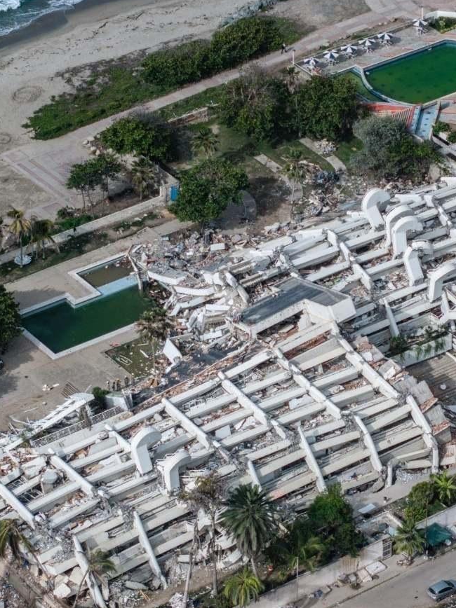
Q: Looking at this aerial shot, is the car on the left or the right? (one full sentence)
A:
The car appears in the right half of the scene.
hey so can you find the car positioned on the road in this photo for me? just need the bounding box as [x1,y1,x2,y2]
[424,572,456,597]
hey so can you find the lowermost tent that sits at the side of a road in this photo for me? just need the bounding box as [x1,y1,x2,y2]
[424,525,455,558]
